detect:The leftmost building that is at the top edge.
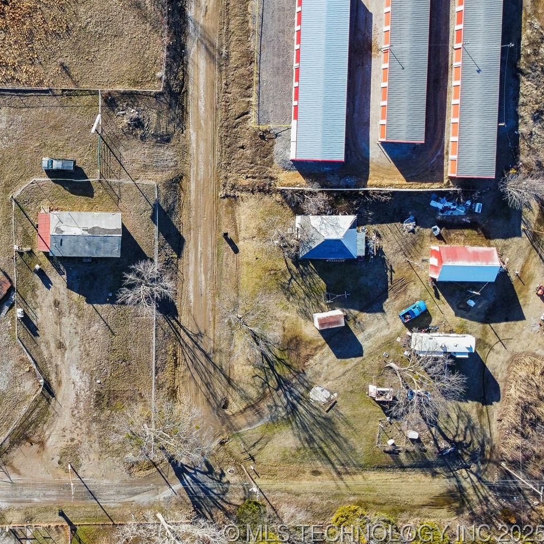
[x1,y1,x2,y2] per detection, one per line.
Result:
[287,0,350,162]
